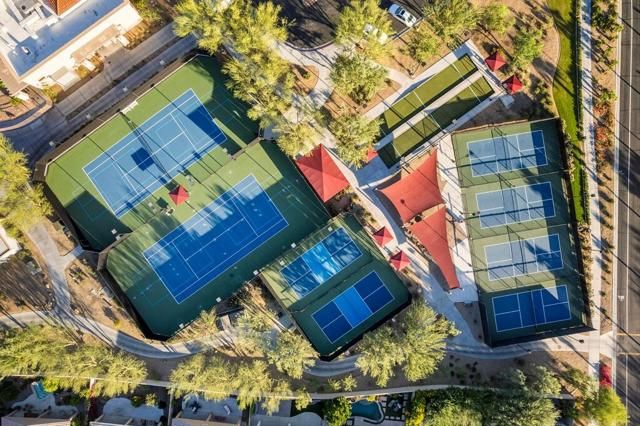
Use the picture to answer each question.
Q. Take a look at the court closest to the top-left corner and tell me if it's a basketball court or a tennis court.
tennis court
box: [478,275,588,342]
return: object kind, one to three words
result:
sports court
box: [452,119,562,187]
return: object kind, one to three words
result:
sports court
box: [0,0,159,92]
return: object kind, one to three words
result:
building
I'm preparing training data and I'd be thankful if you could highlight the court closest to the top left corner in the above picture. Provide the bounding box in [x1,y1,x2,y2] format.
[46,56,262,251]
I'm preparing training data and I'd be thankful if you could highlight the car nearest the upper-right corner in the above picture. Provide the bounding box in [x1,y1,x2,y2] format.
[389,5,416,27]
